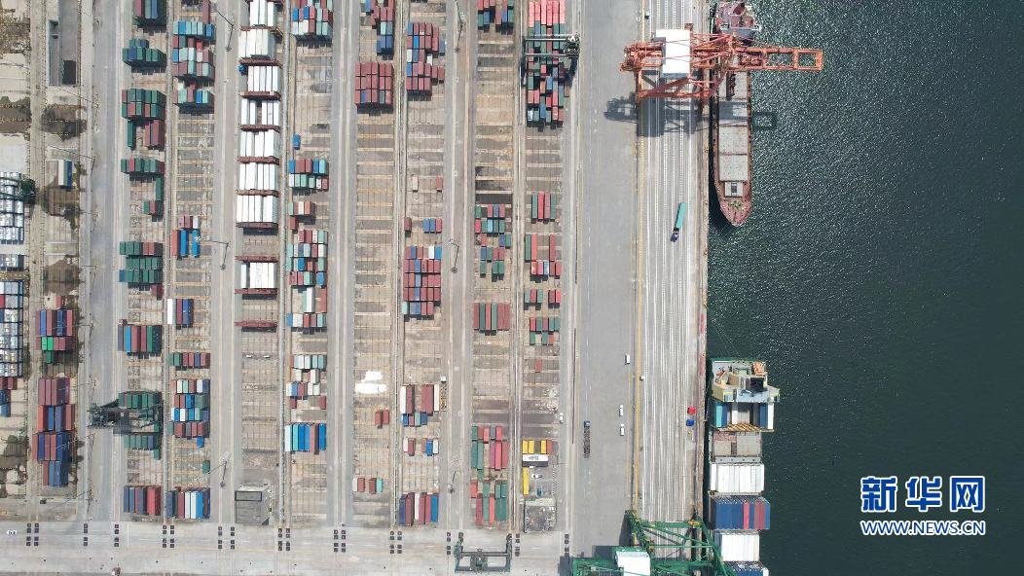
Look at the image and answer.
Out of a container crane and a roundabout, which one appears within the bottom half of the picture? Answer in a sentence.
There is a container crane within the bottom half of the picture.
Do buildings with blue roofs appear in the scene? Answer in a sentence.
No, I can't see a single building with a blue roof in this photo.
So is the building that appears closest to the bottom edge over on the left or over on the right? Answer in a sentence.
It is on the left.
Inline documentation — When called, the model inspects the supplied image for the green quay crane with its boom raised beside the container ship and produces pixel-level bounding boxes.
[572,506,751,576]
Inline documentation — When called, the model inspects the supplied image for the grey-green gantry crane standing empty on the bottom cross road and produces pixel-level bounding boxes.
[456,533,514,573]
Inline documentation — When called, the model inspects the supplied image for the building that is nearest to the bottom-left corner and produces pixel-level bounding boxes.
[232,490,267,528]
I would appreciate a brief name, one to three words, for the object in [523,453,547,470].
building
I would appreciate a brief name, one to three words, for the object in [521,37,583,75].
container crane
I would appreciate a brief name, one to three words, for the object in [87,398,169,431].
container crane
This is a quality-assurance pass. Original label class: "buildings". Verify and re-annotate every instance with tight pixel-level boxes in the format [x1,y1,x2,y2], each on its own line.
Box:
[232,490,267,528]
[57,0,80,85]
[523,453,547,470]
